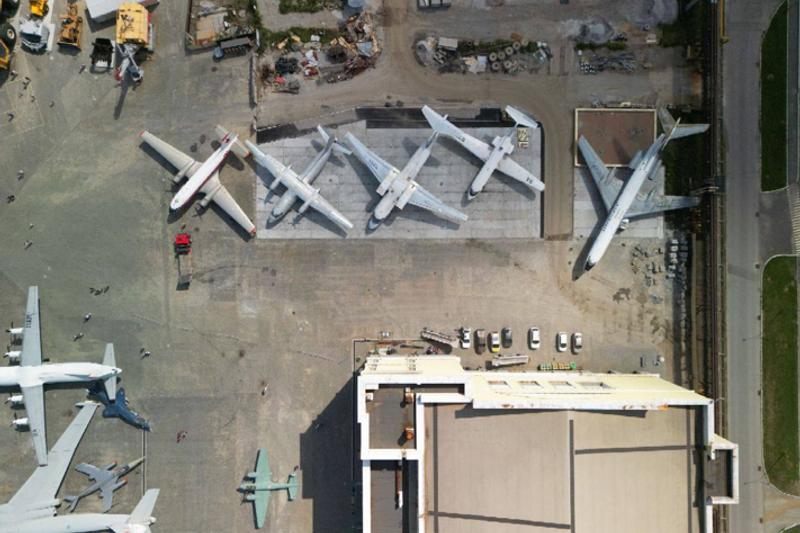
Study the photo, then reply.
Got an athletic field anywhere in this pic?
No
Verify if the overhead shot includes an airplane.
Yes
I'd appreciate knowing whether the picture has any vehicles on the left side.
Yes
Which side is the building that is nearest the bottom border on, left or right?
right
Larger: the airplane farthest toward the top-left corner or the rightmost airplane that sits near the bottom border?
the airplane farthest toward the top-left corner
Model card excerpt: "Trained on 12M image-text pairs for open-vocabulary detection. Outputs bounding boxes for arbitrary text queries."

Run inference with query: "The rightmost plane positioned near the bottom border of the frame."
[238,448,298,528]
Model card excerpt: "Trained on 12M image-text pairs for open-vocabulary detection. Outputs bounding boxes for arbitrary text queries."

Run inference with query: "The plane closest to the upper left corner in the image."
[139,124,255,234]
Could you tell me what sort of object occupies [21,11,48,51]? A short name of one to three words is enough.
truck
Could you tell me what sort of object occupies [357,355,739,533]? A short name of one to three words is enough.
building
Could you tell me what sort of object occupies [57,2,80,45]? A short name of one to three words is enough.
work vehicle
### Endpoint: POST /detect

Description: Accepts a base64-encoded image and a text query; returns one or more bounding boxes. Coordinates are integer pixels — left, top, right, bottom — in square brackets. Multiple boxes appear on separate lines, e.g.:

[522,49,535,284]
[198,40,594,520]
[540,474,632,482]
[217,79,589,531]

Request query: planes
[242,122,355,228]
[348,104,468,233]
[452,106,545,200]
[0,410,161,533]
[238,448,298,528]
[584,99,709,270]
[83,379,152,431]
[139,124,255,234]
[0,282,124,468]
[62,457,146,515]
